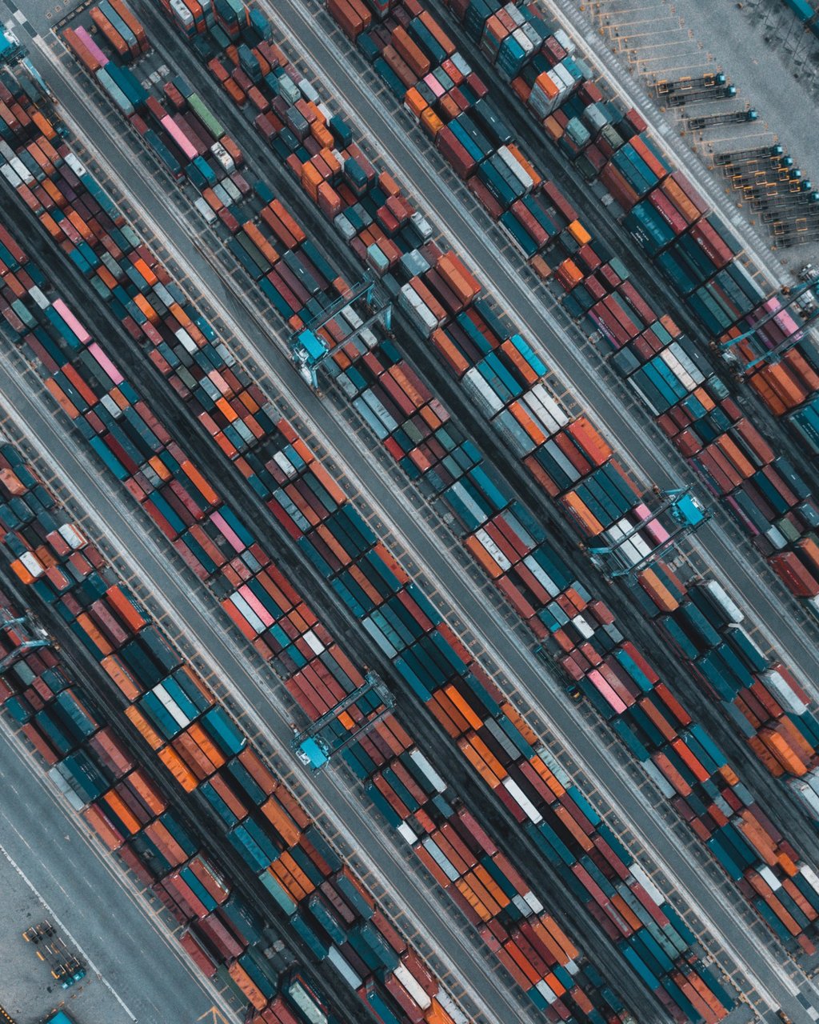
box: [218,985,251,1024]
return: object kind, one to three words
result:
shipping container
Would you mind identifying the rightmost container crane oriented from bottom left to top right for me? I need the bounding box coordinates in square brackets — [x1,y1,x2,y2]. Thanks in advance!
[704,271,819,384]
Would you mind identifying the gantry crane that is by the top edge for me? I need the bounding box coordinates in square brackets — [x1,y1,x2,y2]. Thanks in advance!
[0,18,61,105]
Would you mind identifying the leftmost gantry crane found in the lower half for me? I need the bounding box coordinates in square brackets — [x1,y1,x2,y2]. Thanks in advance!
[0,603,63,660]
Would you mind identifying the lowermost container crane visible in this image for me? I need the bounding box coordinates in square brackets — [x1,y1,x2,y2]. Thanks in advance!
[278,661,400,789]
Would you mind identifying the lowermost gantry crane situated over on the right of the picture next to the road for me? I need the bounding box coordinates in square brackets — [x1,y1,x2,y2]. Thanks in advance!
[576,482,716,591]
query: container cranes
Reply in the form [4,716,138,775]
[0,18,61,105]
[576,482,716,591]
[704,271,819,384]
[278,661,400,789]
[0,603,63,660]
[277,279,397,397]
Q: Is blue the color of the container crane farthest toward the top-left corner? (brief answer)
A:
Yes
